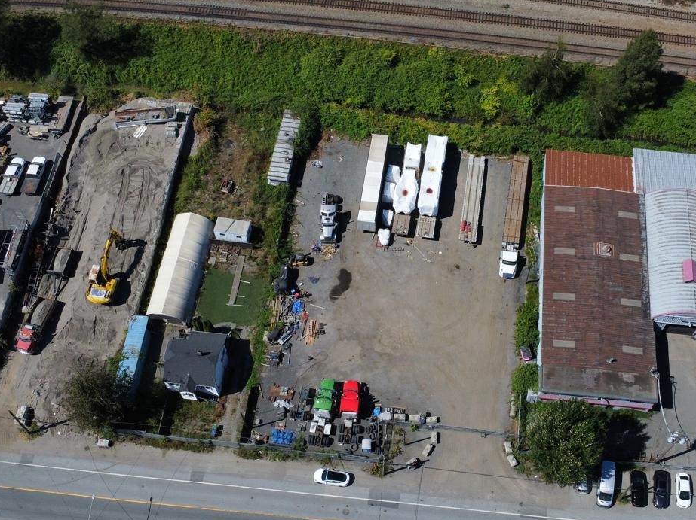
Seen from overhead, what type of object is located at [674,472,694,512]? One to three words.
car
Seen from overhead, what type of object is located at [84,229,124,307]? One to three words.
work vehicle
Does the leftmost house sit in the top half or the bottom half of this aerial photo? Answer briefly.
bottom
